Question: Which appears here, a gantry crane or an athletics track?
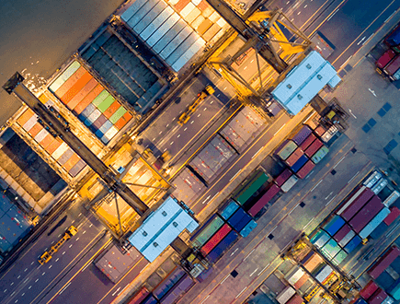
gantry crane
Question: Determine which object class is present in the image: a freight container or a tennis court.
freight container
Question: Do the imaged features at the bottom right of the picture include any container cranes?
Yes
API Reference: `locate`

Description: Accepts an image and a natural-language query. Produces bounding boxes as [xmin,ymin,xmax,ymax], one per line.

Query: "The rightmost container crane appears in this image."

[280,229,364,304]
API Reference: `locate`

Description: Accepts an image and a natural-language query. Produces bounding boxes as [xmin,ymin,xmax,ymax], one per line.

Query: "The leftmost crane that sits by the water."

[0,71,211,278]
